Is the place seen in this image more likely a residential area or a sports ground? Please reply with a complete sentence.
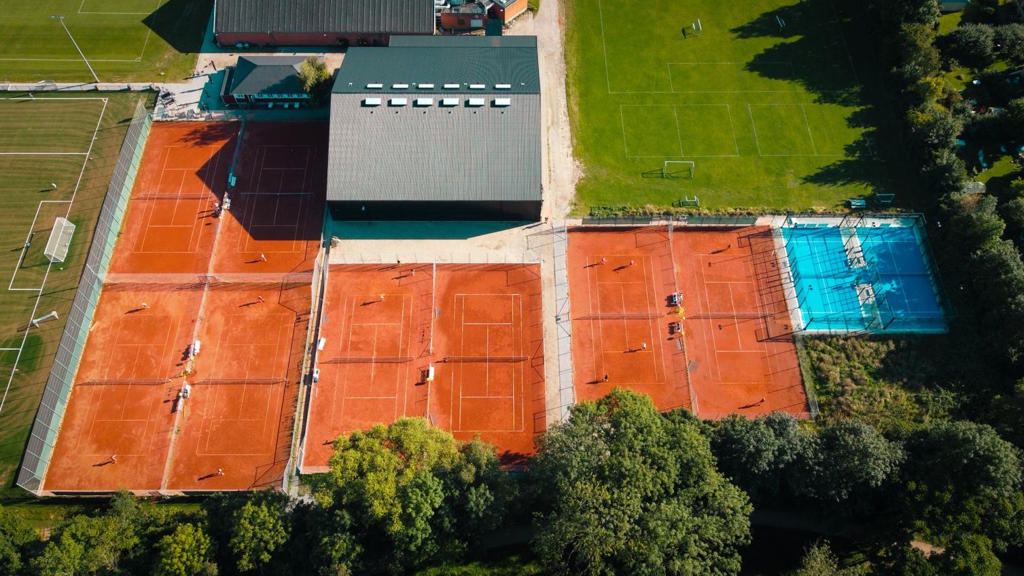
The area seen from above is a sports ground.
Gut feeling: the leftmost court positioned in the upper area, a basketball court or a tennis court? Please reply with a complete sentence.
The leftmost court positioned in the upper area can be classified as a tennis court.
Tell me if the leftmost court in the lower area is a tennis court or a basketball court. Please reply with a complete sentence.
Looking closely, the leftmost court in the lower area is a tennis court.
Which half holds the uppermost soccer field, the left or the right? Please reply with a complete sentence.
You can find the uppermost soccer field on the left side of the picture.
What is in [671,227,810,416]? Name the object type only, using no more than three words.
tennis court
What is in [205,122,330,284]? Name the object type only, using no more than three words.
tennis court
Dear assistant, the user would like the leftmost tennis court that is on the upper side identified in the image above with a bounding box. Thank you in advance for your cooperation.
[105,122,239,284]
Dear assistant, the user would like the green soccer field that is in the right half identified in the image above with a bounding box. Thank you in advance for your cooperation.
[575,0,899,205]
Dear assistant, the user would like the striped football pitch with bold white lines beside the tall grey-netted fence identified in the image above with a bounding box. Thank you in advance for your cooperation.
[0,90,158,564]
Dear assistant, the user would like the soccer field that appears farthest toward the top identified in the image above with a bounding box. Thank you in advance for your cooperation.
[0,0,211,83]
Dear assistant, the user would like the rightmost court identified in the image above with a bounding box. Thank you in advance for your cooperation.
[855,214,959,330]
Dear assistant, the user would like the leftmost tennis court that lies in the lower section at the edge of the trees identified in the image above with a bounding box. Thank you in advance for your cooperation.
[43,283,205,491]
